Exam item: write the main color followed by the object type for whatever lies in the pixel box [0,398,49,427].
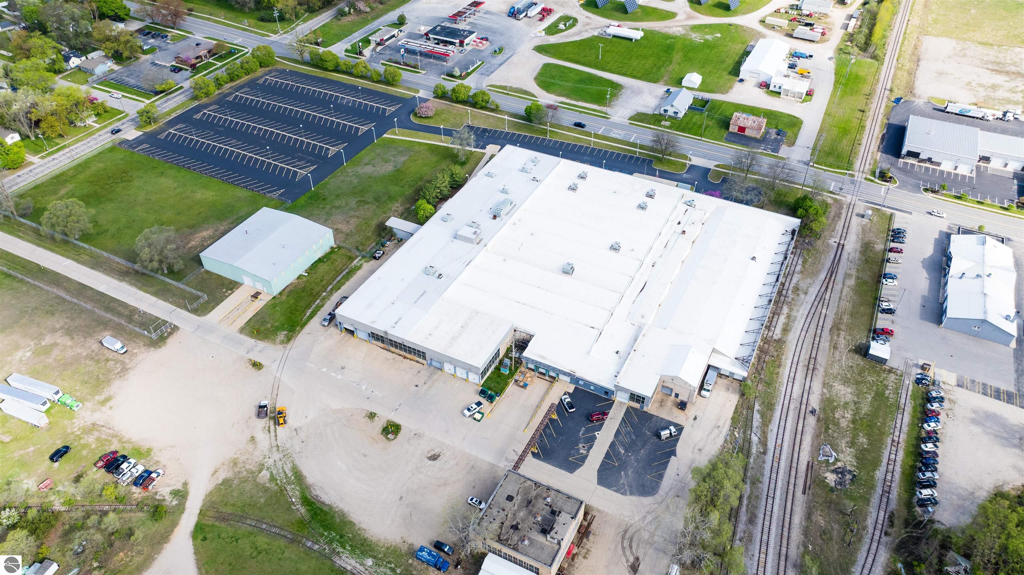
white trailer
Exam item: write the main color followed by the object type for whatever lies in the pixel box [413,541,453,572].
blue truck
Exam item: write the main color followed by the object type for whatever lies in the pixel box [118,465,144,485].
white vehicle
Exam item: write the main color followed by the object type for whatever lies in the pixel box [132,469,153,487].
blue car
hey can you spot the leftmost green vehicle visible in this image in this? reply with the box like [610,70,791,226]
[55,393,84,411]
